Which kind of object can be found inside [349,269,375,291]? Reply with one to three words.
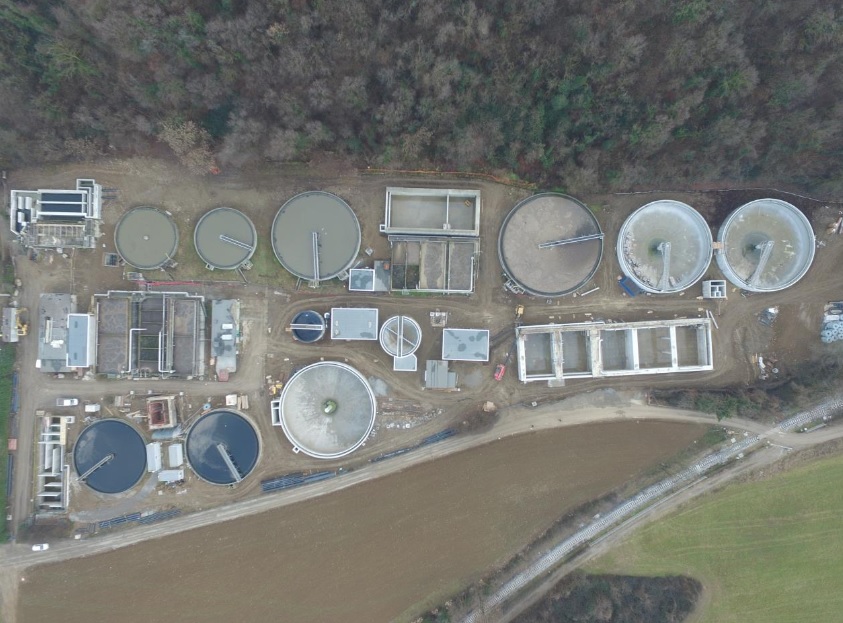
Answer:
building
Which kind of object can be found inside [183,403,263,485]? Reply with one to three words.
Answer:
storage tank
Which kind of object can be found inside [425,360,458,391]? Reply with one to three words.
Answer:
shed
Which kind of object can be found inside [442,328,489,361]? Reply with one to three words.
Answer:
building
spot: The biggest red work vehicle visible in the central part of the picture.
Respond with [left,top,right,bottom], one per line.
[492,359,506,380]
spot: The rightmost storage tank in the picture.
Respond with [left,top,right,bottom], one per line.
[715,198,816,293]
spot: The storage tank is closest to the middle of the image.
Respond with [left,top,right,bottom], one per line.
[380,315,422,357]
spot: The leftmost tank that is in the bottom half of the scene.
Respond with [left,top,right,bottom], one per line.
[72,416,148,494]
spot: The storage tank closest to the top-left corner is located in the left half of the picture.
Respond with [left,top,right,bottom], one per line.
[114,206,179,281]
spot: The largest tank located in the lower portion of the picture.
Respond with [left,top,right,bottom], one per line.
[272,360,376,458]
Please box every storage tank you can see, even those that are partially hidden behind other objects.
[272,360,376,458]
[194,207,258,283]
[614,198,712,294]
[114,206,179,281]
[72,416,148,494]
[272,191,361,291]
[286,309,326,343]
[497,192,605,297]
[183,403,263,485]
[380,315,422,357]
[715,198,816,293]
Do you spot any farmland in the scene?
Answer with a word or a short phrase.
Yes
